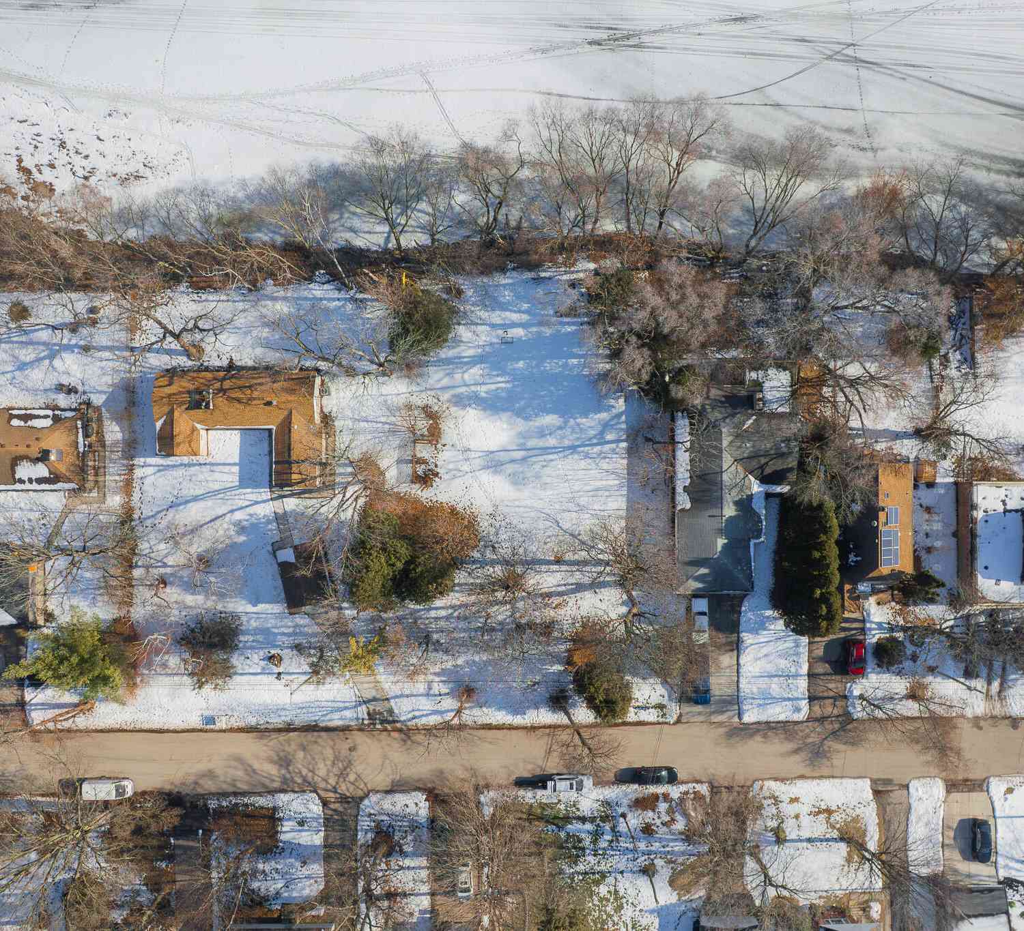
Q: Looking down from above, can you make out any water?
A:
Yes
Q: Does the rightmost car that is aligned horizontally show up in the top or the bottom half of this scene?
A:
bottom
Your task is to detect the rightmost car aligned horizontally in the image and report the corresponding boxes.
[634,765,677,786]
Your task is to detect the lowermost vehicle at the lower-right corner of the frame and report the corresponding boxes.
[966,818,989,861]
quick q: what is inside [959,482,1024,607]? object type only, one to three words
house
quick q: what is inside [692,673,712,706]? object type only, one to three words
car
